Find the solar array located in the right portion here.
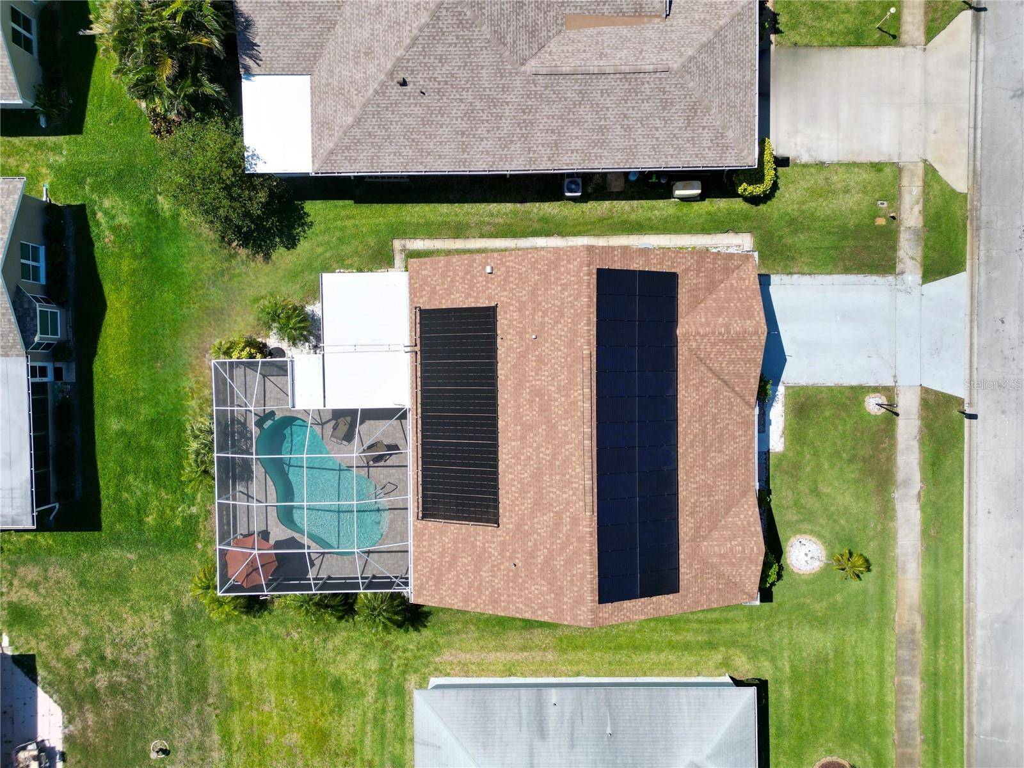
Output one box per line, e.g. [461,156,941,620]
[598,268,678,603]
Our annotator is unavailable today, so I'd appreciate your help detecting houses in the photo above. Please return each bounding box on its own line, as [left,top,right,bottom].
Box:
[0,175,78,529]
[407,245,768,627]
[414,667,760,768]
[232,0,761,179]
[0,0,49,124]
